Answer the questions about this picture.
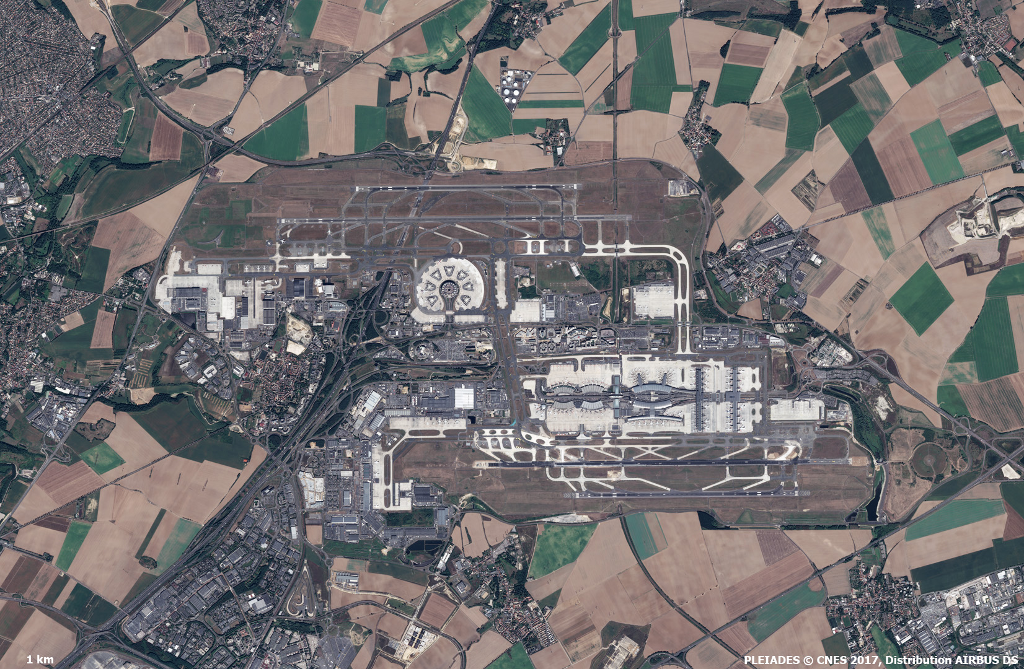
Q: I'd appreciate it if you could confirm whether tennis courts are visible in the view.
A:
No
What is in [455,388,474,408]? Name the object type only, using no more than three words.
building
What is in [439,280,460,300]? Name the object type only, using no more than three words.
building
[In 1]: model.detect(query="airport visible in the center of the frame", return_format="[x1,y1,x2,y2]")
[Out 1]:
[152,160,875,525]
